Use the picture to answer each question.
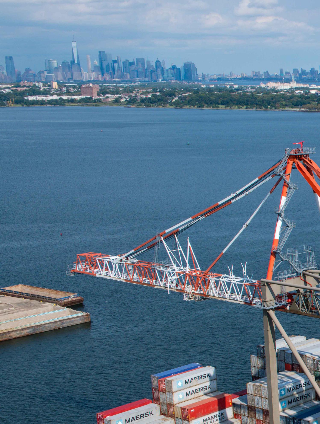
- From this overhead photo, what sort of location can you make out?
port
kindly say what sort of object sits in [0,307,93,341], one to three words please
ship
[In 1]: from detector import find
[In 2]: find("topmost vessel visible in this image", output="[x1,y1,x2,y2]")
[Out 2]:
[0,285,85,307]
